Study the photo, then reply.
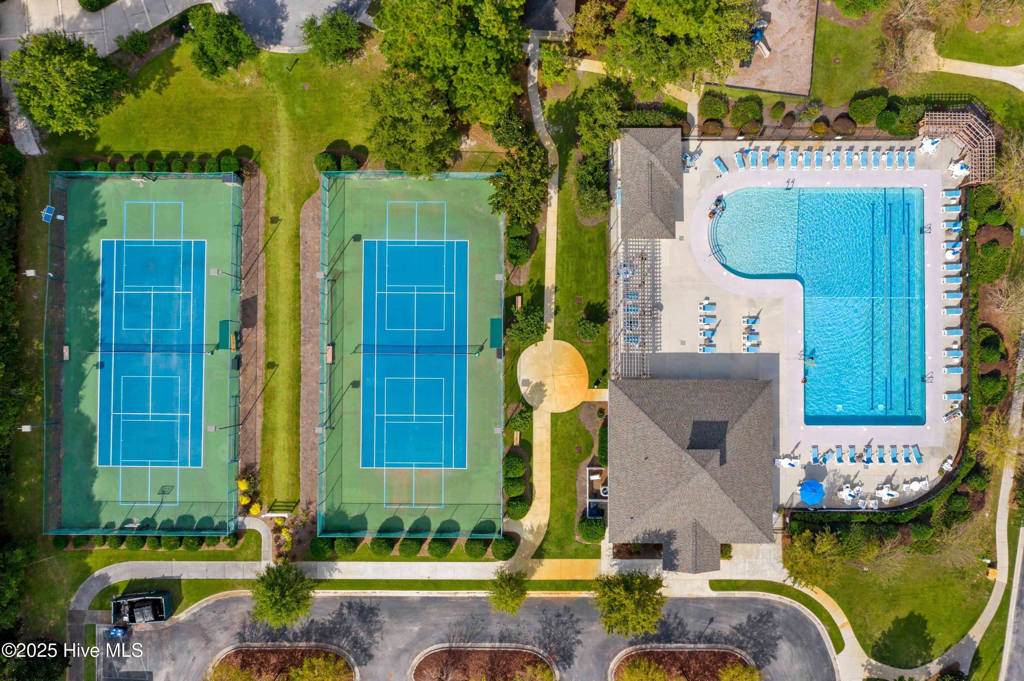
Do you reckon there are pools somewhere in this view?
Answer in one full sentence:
Yes, I can see a pool in this picture.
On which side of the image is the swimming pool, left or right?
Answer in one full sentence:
You can find the swimming pool on the right side of the picture.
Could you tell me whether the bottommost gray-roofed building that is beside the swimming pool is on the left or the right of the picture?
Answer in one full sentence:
The bottommost gray-roofed building that is beside the swimming pool sits on the right side.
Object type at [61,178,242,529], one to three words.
sports court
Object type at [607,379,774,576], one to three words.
building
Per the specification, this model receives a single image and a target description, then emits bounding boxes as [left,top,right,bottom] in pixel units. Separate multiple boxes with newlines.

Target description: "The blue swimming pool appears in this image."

[708,181,932,431]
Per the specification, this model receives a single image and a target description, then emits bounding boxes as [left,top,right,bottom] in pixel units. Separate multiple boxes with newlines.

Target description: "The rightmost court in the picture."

[324,179,504,531]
